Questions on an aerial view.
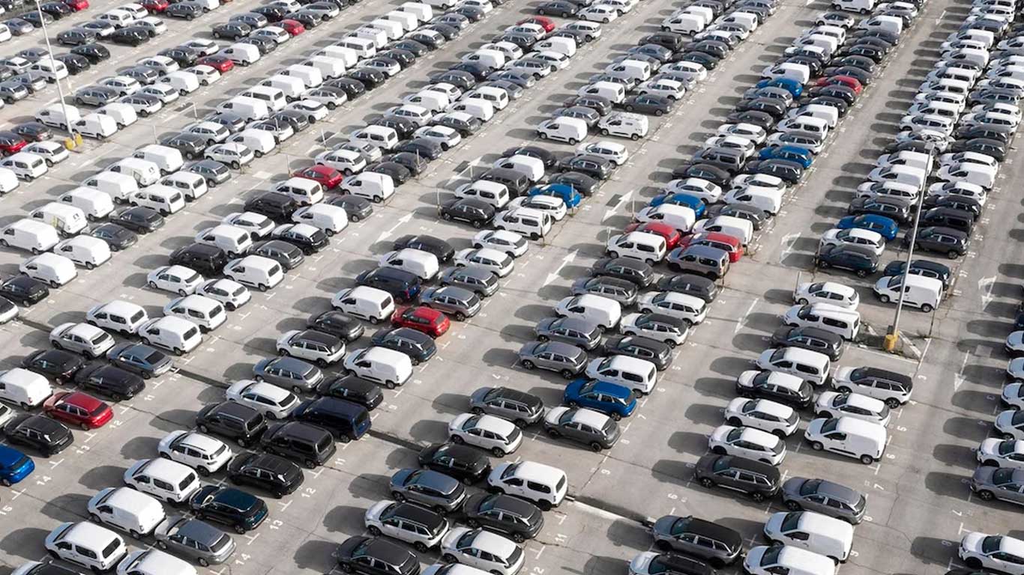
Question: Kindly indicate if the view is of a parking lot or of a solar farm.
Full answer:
The area seen from above is a parking lot.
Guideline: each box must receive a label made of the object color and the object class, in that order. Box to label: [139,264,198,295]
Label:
white car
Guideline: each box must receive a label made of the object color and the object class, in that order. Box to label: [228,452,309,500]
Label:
black car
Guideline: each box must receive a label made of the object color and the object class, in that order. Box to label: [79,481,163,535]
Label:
white van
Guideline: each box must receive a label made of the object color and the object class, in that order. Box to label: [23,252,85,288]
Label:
white van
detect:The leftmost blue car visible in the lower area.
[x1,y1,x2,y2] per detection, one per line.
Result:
[0,444,38,487]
